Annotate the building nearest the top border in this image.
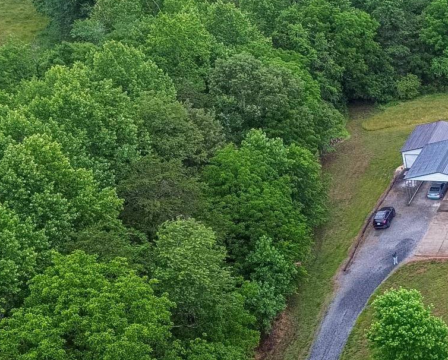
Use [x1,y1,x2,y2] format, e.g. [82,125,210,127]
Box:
[398,118,448,169]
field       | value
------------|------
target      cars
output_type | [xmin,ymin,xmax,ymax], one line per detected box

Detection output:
[427,182,448,197]
[373,203,399,227]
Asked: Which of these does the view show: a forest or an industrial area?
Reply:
forest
